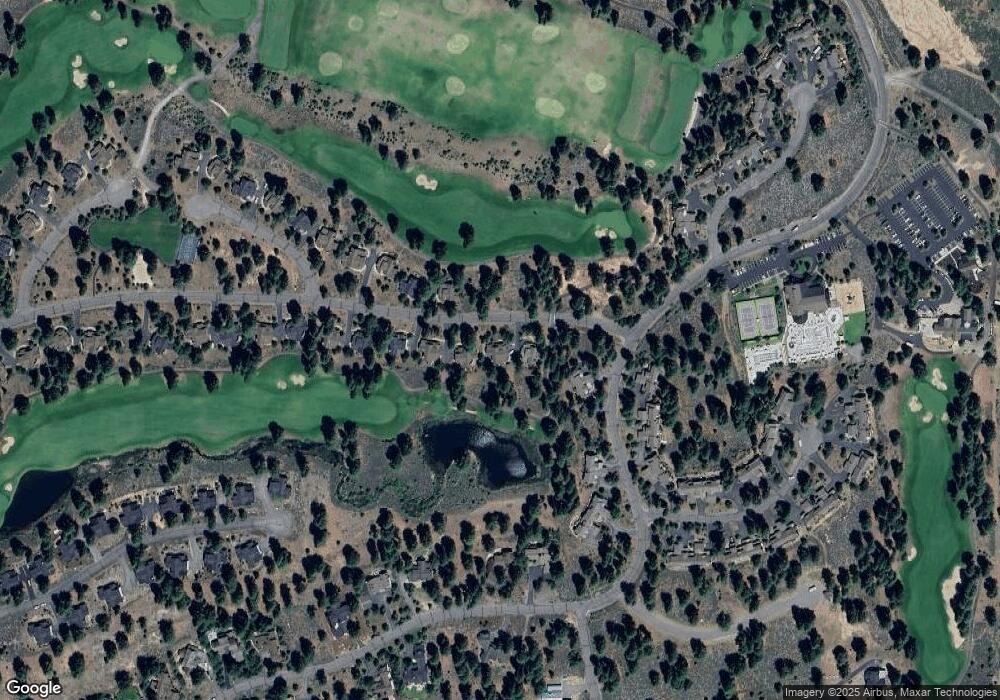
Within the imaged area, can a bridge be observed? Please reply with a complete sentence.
No, no bridge can be seen from above.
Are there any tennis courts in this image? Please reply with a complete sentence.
Yes, the picture does show a tennis court.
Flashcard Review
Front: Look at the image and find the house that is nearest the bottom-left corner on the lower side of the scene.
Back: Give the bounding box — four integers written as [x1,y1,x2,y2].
[25,619,55,646]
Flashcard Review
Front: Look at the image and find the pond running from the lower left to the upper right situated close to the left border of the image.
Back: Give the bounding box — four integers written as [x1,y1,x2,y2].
[1,470,76,535]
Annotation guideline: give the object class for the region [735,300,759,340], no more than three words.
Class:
tennis court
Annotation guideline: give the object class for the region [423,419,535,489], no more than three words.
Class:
pond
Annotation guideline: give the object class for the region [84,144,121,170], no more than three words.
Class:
house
